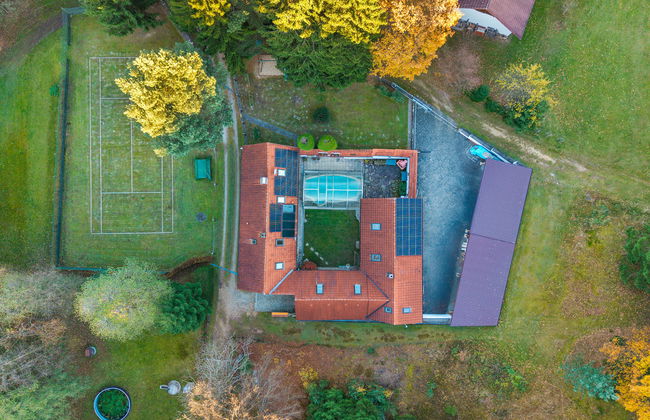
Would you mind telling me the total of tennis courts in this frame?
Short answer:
1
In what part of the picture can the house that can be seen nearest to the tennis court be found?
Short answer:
center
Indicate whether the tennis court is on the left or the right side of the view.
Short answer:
left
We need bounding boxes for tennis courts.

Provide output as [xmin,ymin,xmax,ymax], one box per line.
[86,52,177,239]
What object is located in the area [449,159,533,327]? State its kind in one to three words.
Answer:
shed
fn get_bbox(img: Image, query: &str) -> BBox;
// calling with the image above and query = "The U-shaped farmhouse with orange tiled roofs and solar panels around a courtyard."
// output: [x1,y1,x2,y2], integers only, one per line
[235,143,424,325]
